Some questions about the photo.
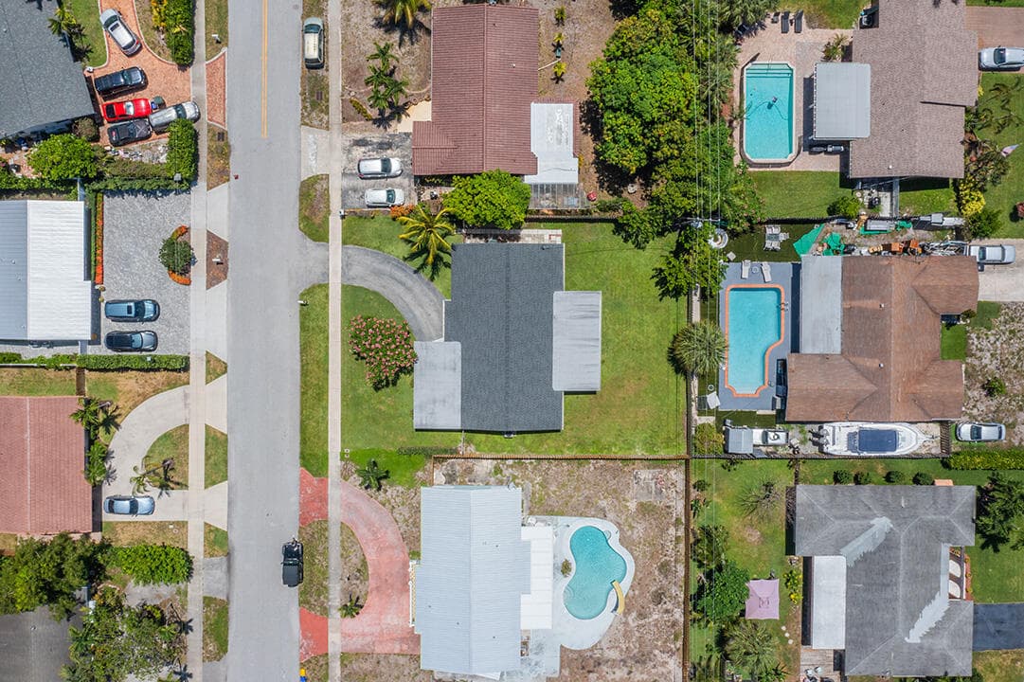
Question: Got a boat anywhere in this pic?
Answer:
Yes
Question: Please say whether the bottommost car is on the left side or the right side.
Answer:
left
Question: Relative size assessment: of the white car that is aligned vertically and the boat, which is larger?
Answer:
the boat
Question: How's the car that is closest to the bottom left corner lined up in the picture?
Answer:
horizontally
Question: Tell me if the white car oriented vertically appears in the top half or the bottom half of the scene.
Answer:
top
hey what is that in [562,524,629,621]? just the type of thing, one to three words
swimming pool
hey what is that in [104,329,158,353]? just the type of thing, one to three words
car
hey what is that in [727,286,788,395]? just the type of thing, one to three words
swimming pool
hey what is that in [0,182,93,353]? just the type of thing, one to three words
house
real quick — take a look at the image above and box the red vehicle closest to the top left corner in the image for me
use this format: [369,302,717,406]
[102,97,154,124]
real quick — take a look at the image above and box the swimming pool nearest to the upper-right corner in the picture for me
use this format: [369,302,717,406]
[742,57,796,162]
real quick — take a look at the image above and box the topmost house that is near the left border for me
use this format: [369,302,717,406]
[0,0,102,144]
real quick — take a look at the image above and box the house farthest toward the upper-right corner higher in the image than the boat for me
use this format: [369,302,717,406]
[806,0,980,213]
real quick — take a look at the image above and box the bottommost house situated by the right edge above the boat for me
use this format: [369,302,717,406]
[783,255,980,424]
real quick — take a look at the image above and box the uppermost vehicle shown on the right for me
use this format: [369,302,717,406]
[978,46,1024,72]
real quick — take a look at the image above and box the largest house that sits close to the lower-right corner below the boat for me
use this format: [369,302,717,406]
[790,486,976,677]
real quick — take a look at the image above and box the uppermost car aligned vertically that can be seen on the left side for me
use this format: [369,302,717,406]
[300,18,326,70]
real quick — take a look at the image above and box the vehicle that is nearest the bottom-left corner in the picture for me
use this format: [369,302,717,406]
[104,494,156,518]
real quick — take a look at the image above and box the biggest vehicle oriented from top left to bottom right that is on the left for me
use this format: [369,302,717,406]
[100,8,144,58]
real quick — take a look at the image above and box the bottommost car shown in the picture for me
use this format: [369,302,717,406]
[281,540,305,588]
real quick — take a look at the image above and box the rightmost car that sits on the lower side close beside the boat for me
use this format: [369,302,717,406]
[953,420,1007,444]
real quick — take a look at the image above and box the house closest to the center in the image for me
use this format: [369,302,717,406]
[413,242,602,438]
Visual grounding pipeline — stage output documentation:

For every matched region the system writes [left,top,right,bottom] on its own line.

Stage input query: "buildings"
[0,397,102,540]
[790,486,976,677]
[413,242,602,438]
[0,0,102,144]
[0,182,93,353]
[411,1,590,212]
[806,0,980,213]
[720,426,753,454]
[783,255,980,424]
[415,472,553,679]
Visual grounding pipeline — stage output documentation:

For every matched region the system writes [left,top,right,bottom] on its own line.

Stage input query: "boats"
[815,423,931,455]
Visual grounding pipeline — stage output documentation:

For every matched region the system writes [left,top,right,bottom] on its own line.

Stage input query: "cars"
[364,185,406,208]
[147,100,203,132]
[967,242,1017,265]
[104,494,156,518]
[102,97,154,124]
[953,420,1007,444]
[104,329,158,353]
[978,46,1024,72]
[300,18,326,70]
[357,155,403,180]
[105,298,160,323]
[106,119,155,147]
[100,8,144,58]
[281,540,305,588]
